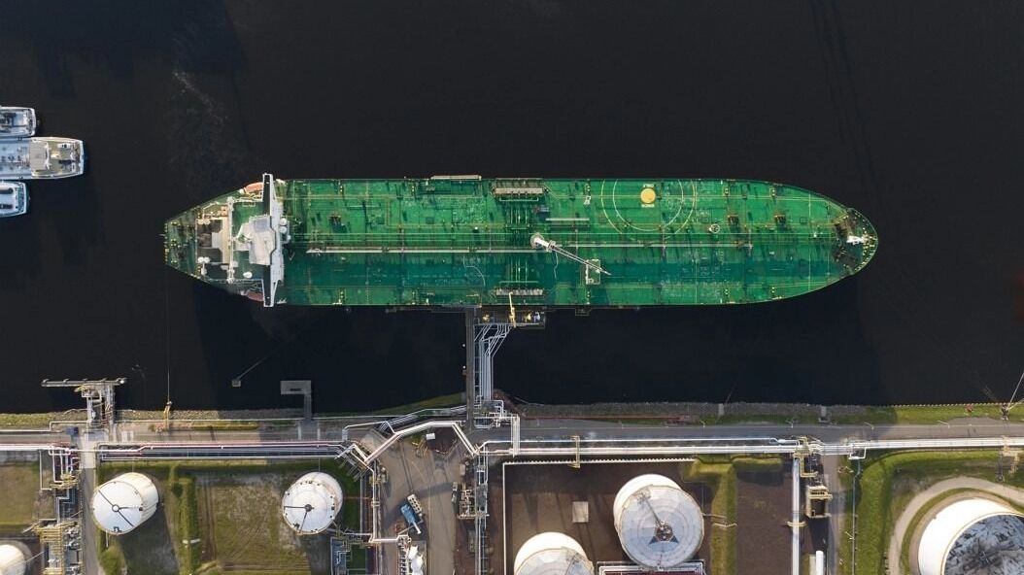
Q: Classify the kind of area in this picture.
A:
industrial area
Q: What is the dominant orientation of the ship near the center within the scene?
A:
horizontally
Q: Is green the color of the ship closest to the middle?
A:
Yes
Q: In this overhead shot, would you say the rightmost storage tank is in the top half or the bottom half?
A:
bottom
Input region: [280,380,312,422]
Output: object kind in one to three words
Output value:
pier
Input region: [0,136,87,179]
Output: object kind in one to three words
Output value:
ship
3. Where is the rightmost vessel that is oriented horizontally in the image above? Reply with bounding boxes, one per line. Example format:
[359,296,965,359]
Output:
[164,172,880,313]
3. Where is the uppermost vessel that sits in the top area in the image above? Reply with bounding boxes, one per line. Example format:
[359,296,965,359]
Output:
[0,106,39,136]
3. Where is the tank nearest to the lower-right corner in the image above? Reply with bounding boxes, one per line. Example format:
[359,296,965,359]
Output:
[919,498,1024,575]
